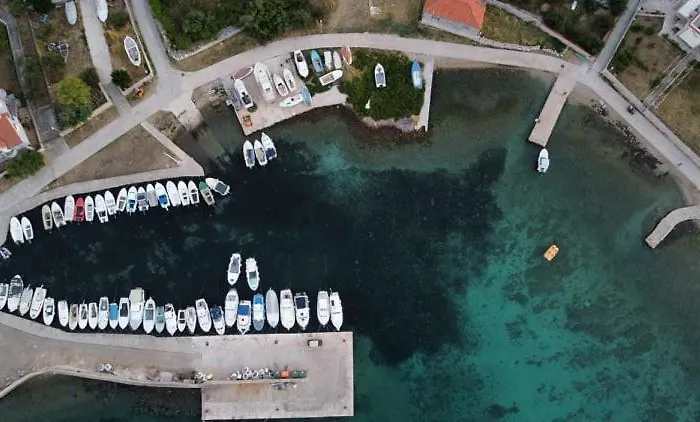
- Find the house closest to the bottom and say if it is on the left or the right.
left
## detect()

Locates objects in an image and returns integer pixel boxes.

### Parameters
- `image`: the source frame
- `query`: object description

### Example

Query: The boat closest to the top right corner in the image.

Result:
[537,148,549,172]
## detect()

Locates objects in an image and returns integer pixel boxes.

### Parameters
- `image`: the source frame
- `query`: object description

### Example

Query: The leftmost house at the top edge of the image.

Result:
[420,0,488,38]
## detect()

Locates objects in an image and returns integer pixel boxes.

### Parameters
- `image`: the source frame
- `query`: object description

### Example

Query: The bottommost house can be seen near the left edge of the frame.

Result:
[0,106,36,170]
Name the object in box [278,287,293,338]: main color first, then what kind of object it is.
white boat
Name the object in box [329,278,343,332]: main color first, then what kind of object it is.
white boat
